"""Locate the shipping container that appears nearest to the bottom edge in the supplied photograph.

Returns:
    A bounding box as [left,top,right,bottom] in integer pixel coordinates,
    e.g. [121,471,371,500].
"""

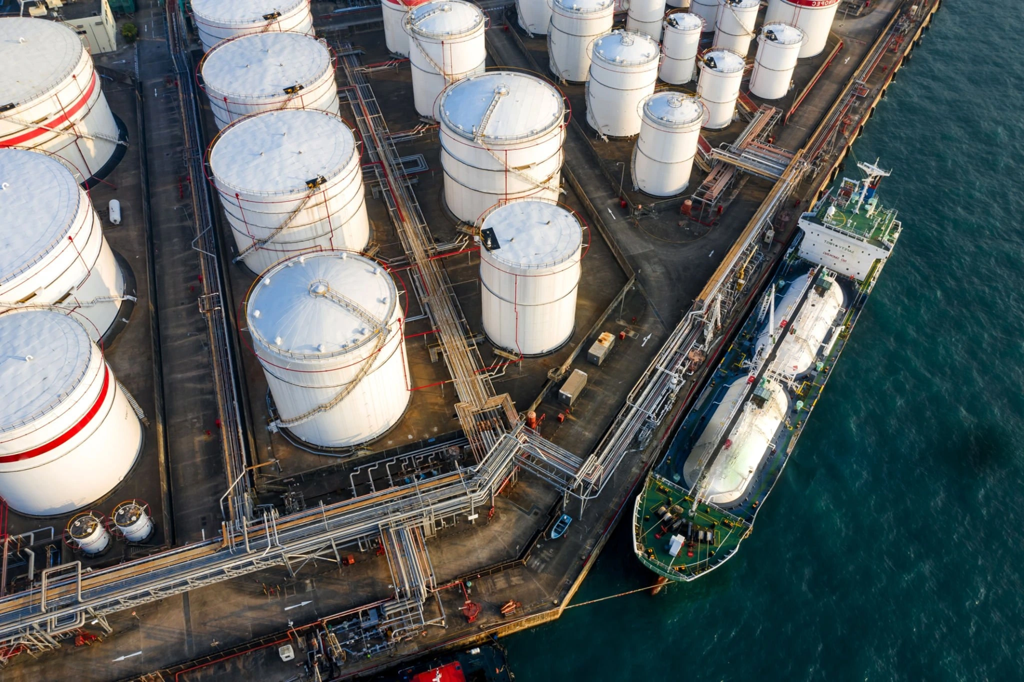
[560,369,587,402]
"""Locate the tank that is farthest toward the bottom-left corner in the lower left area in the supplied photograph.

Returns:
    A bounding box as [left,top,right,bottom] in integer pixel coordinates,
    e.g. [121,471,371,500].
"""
[65,510,114,558]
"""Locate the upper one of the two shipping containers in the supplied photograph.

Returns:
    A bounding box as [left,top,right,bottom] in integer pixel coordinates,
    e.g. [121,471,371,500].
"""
[589,330,616,363]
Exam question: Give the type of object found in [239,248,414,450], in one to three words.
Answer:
storage tank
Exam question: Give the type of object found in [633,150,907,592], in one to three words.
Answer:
ship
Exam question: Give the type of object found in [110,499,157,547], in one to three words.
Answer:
storage tank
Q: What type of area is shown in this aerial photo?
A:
industrial area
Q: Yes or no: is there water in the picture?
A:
Yes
